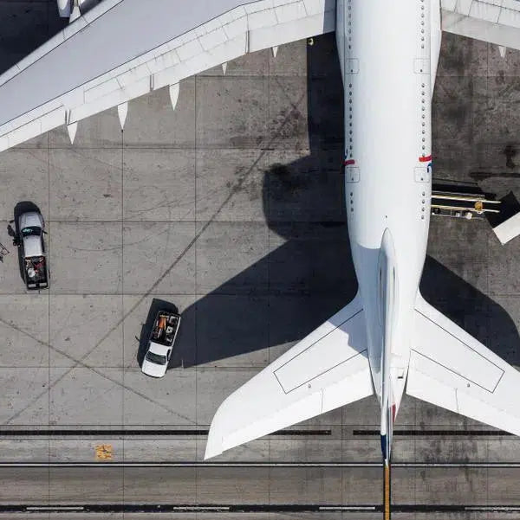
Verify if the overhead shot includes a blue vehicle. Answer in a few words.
No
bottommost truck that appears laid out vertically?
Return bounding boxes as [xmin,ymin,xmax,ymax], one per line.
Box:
[142,308,181,380]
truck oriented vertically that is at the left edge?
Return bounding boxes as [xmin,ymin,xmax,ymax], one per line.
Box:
[15,210,47,290]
